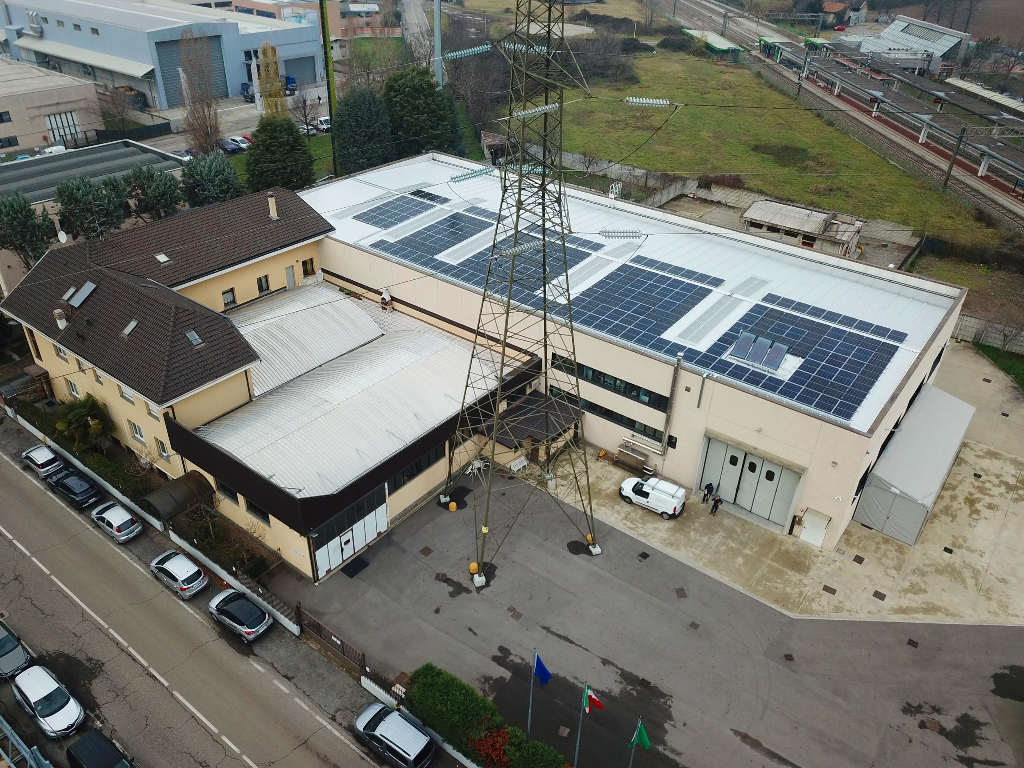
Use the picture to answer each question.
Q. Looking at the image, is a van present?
Yes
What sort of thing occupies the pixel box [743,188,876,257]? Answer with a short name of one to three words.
shed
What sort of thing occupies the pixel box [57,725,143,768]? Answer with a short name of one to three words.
car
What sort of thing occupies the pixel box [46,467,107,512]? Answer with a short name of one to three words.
car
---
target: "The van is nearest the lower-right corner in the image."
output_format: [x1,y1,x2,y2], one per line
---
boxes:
[620,472,693,522]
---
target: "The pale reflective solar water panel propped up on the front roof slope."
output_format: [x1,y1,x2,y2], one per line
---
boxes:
[62,278,96,319]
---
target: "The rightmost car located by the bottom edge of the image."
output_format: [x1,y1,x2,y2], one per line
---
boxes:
[353,700,445,768]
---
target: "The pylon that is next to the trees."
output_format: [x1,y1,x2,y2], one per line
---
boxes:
[439,0,603,587]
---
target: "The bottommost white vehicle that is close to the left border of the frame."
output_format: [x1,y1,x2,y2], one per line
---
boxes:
[3,656,89,741]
